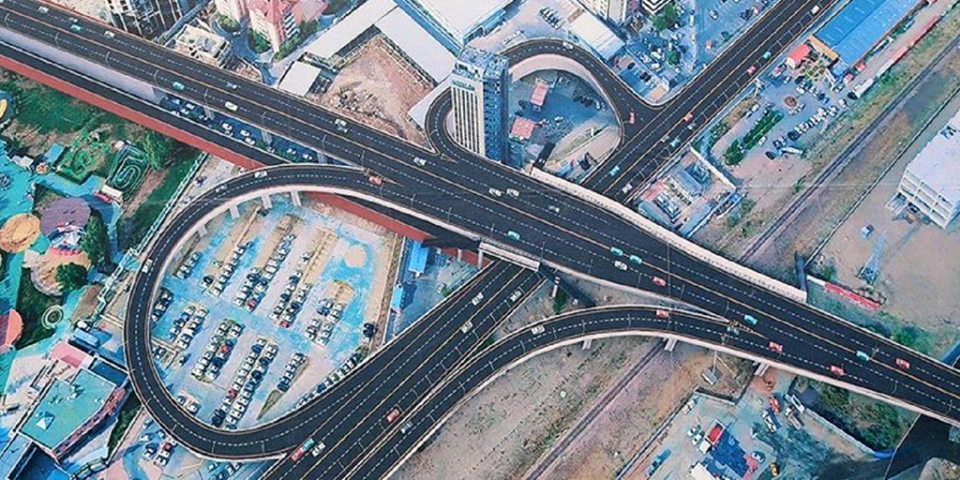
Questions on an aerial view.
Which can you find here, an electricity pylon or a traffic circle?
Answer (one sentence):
The one in the frame is an electricity pylon.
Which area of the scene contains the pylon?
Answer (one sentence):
The pylon sits in the right section of the image.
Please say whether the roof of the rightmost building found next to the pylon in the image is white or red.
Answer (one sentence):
The roof of the rightmost building found next to the pylon looks white in the image.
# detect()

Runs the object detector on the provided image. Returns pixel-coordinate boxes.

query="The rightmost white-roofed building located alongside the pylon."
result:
[897,111,960,235]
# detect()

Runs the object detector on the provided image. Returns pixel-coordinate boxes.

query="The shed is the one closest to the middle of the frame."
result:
[409,240,429,279]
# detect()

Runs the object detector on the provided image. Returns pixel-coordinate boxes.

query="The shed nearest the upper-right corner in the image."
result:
[908,10,945,46]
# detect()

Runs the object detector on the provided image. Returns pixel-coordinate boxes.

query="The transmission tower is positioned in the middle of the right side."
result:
[856,229,897,287]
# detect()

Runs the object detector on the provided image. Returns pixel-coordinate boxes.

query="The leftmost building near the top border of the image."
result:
[103,0,169,38]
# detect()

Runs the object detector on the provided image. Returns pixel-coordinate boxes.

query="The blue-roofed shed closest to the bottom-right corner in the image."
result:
[706,431,748,480]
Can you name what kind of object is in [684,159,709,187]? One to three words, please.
shed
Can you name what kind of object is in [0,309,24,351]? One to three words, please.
tent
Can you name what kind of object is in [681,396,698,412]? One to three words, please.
vehicle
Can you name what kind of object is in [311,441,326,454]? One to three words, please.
vehicle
